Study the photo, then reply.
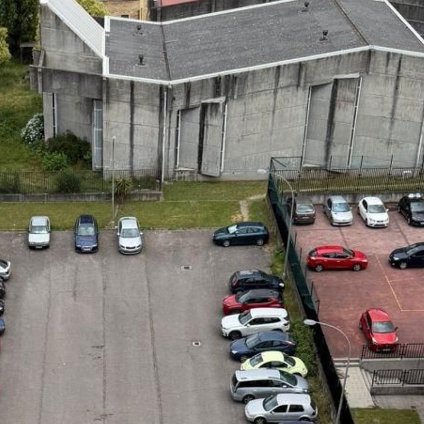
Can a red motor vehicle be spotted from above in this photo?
Yes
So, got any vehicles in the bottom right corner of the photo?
Yes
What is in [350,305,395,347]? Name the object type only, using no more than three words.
car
